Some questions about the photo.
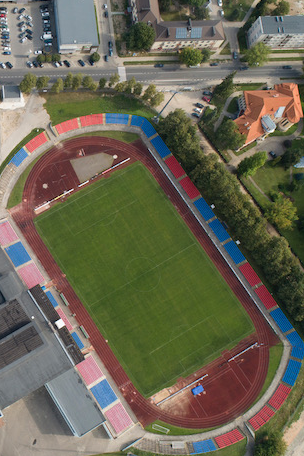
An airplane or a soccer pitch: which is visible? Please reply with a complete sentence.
There is a soccer pitch in the scene.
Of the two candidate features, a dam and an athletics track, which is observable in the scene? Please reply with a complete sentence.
It is an athletics track that can be seen here.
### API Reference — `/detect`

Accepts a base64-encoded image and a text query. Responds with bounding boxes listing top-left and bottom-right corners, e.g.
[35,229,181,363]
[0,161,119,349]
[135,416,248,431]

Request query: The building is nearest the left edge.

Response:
[1,85,23,103]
